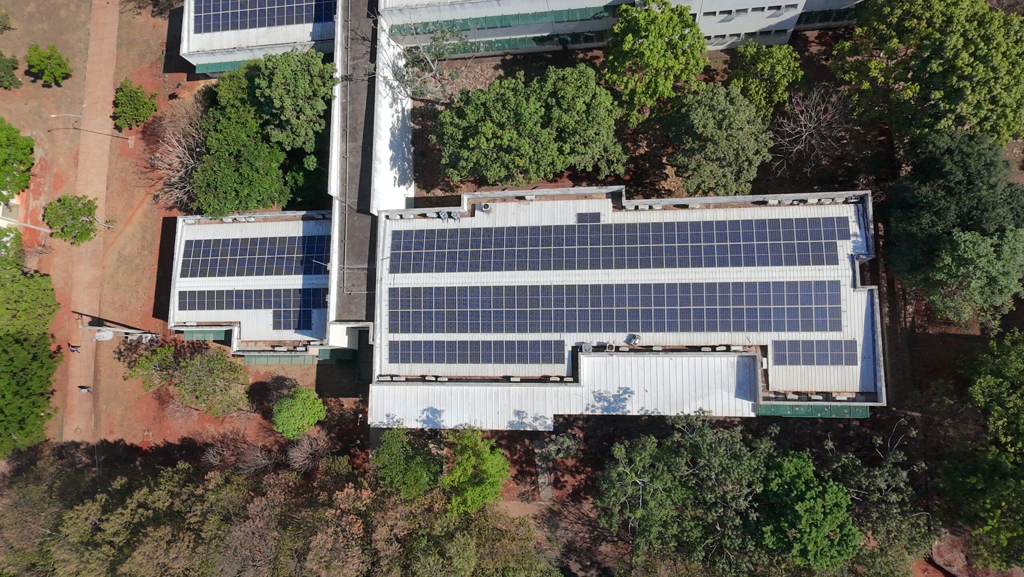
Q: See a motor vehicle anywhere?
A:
No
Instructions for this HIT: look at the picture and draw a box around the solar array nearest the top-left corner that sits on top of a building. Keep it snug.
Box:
[192,0,337,34]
